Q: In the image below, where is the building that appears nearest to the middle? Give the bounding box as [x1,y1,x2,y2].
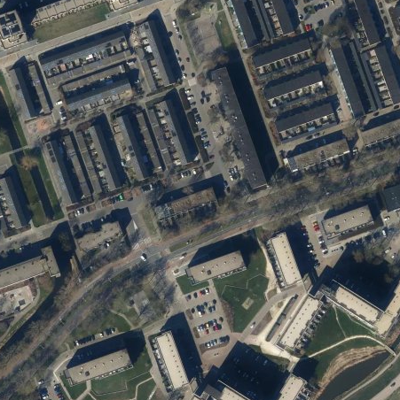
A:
[155,188,218,220]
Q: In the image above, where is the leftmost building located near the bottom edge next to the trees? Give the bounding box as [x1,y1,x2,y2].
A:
[68,350,132,387]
